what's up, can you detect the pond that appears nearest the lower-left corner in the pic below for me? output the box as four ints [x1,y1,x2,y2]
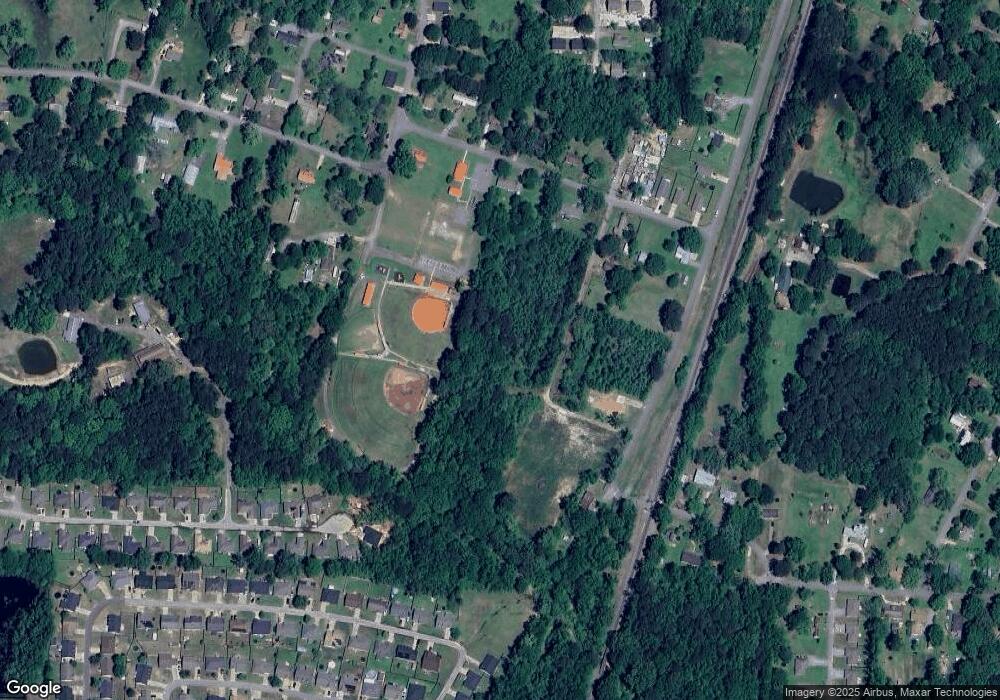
[0,576,38,674]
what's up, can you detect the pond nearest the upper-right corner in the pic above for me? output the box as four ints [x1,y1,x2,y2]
[791,170,843,213]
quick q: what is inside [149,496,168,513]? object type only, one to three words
house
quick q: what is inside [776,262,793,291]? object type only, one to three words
barn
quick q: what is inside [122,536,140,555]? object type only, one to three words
house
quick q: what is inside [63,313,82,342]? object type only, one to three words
barn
